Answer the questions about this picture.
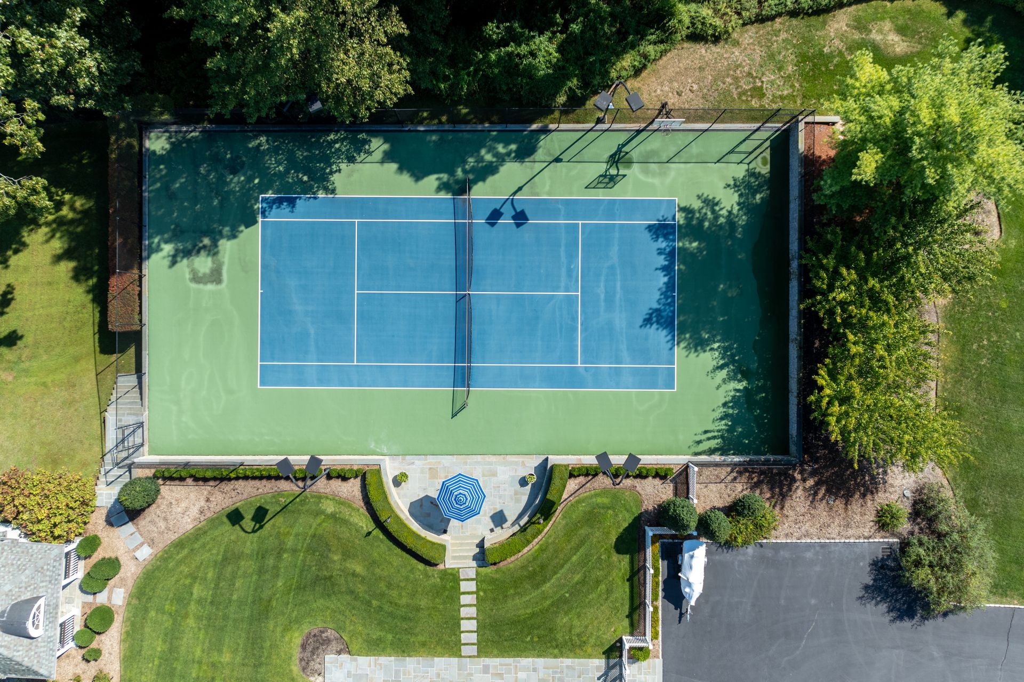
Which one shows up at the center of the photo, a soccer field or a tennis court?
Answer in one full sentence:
Visible at the center of the photo is a tennis court.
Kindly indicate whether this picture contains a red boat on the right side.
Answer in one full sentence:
No, the scene shows no red boat on the right side.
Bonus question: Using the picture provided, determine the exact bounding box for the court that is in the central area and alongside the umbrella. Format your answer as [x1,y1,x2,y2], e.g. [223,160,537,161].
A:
[148,131,790,455]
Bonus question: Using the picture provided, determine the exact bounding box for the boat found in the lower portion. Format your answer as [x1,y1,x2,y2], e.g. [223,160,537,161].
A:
[679,539,705,605]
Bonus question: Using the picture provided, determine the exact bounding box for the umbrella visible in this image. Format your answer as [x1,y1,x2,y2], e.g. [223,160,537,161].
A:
[436,472,486,522]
